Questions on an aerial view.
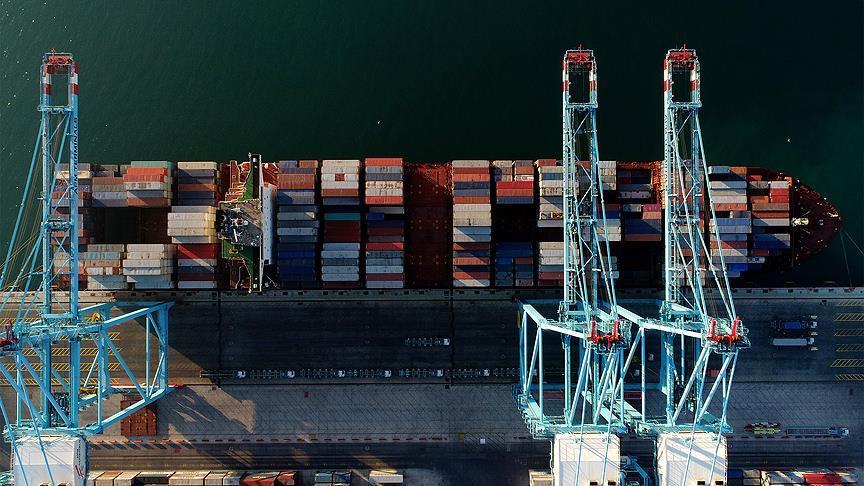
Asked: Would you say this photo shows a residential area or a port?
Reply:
port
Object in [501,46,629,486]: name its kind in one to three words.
container crane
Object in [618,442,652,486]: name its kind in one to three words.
container crane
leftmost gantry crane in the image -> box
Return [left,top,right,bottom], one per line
[0,46,190,486]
